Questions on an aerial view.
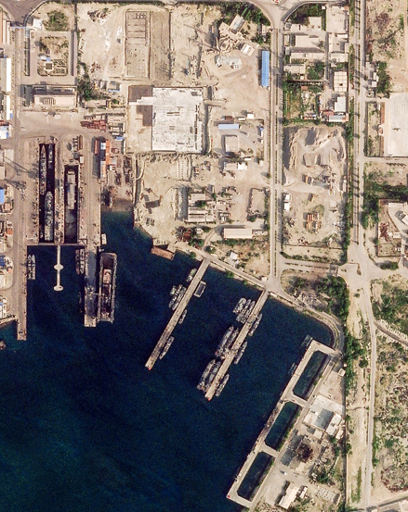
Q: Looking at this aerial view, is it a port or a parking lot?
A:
port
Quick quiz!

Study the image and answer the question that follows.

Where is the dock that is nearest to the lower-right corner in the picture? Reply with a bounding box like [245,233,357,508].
[206,290,270,398]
